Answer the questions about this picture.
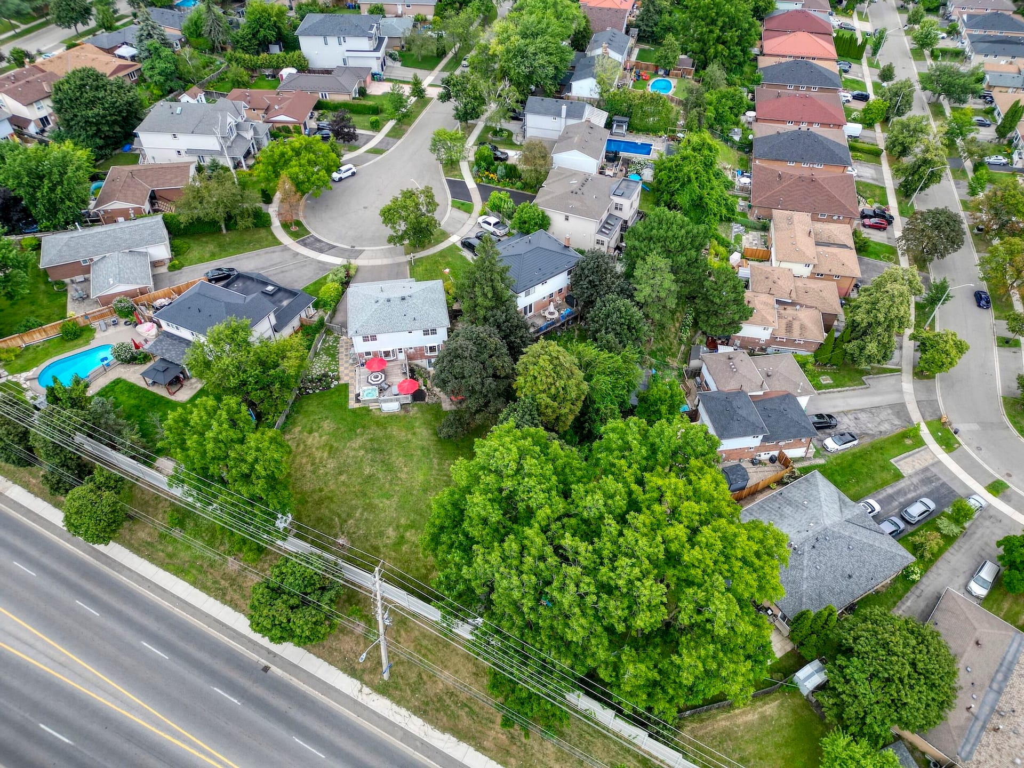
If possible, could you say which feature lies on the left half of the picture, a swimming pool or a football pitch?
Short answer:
swimming pool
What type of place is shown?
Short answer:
residential area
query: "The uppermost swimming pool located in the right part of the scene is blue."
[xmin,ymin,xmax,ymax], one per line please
[649,77,673,92]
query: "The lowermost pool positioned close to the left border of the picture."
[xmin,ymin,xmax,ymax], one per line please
[35,342,117,390]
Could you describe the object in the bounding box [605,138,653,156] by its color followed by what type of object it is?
blue swimming pool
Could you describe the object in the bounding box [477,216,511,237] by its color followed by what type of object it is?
white truck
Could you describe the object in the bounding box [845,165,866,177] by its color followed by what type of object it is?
white vehicle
